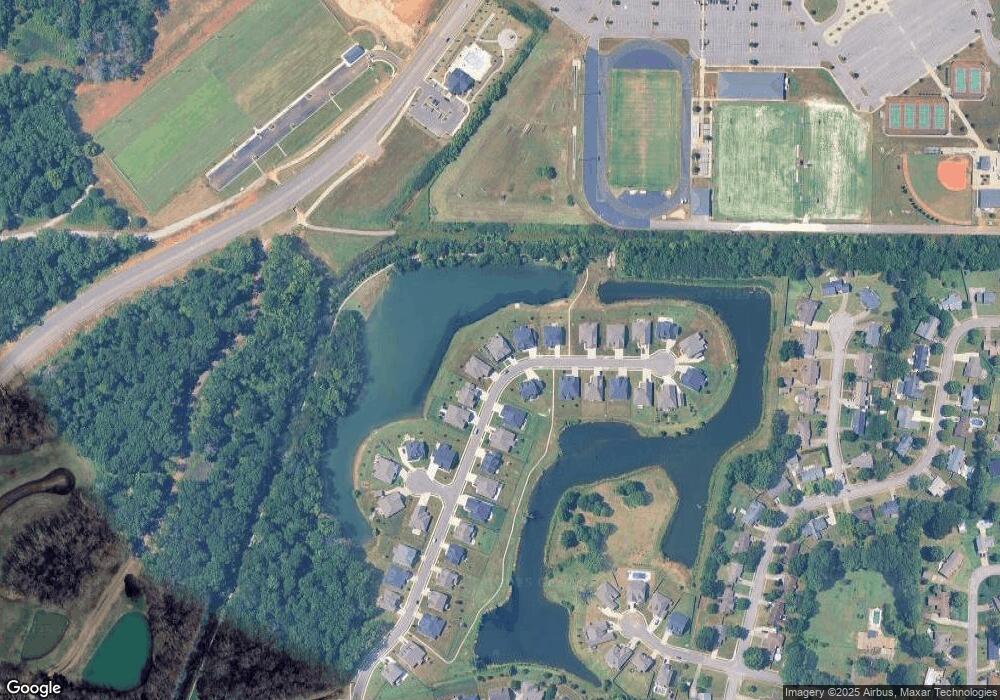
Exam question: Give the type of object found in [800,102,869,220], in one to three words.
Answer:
sports field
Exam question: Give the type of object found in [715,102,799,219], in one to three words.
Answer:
sports field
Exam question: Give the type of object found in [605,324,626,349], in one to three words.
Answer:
house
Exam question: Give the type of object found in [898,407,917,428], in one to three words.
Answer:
house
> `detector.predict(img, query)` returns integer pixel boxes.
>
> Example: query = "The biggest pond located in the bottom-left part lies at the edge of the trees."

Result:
[82,611,151,690]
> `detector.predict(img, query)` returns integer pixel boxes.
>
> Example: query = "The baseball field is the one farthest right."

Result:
[902,151,972,225]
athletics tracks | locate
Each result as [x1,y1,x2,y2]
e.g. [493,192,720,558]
[584,39,692,228]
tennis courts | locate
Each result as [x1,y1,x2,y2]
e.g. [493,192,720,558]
[955,68,967,93]
[904,103,915,128]
[890,103,900,128]
[934,103,945,128]
[919,103,930,128]
[970,68,980,93]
